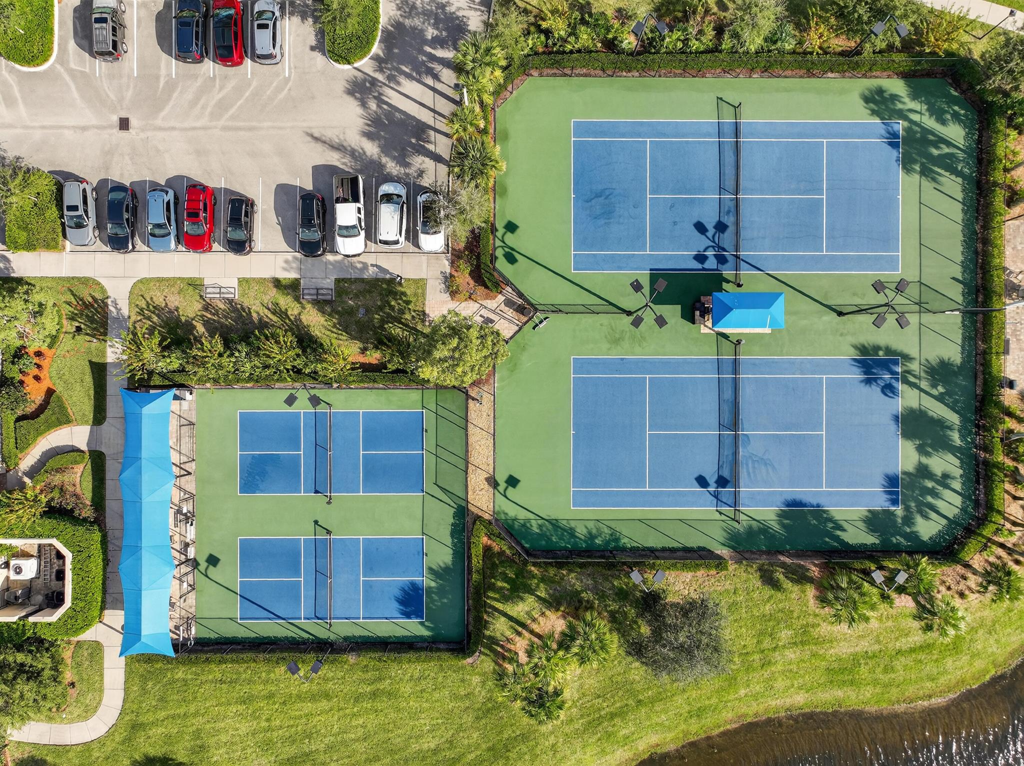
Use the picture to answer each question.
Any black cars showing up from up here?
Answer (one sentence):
Yes, the frame does contain a black car.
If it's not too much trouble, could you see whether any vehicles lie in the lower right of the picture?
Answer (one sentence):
No, the scene shows no vehicle in the lower right of the picture.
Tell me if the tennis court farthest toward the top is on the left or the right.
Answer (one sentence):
It is on the right.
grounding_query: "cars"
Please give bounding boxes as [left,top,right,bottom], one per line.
[374,180,407,252]
[61,177,99,248]
[211,0,247,70]
[104,183,141,256]
[251,0,285,68]
[415,188,447,256]
[225,194,259,259]
[294,191,327,261]
[182,183,218,255]
[92,0,129,66]
[174,0,210,67]
[145,185,181,255]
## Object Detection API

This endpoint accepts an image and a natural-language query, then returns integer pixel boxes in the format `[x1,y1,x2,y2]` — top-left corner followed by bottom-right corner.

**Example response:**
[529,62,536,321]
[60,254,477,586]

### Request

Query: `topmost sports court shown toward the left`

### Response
[196,389,466,516]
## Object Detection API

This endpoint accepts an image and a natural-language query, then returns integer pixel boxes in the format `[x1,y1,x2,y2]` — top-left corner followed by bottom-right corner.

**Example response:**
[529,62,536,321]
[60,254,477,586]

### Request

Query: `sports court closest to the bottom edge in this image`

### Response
[196,516,466,644]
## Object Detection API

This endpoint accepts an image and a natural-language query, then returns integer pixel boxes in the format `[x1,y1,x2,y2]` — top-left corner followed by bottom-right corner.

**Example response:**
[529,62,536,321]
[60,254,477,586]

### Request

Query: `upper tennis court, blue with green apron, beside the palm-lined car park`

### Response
[495,78,976,313]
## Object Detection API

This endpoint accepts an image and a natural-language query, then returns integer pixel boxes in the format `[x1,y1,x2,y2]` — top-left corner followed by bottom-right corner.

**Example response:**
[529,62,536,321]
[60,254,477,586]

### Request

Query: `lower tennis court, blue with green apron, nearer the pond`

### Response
[495,313,976,550]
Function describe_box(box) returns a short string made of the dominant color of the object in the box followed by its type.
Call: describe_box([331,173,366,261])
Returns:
white truck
